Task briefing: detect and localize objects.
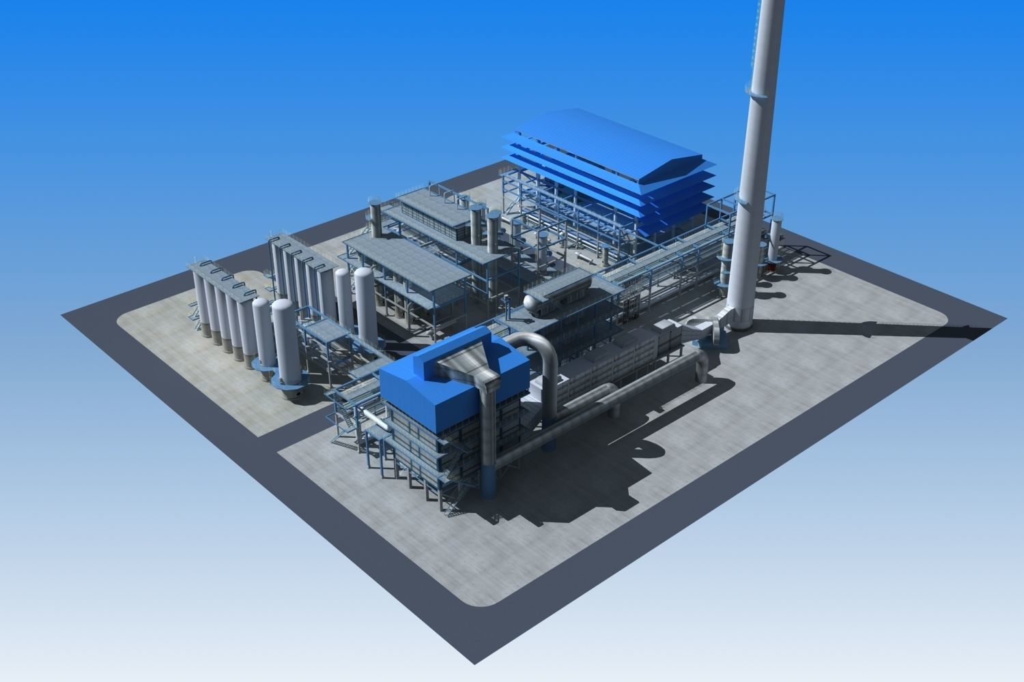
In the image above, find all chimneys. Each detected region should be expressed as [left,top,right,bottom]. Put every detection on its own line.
[725,0,787,333]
